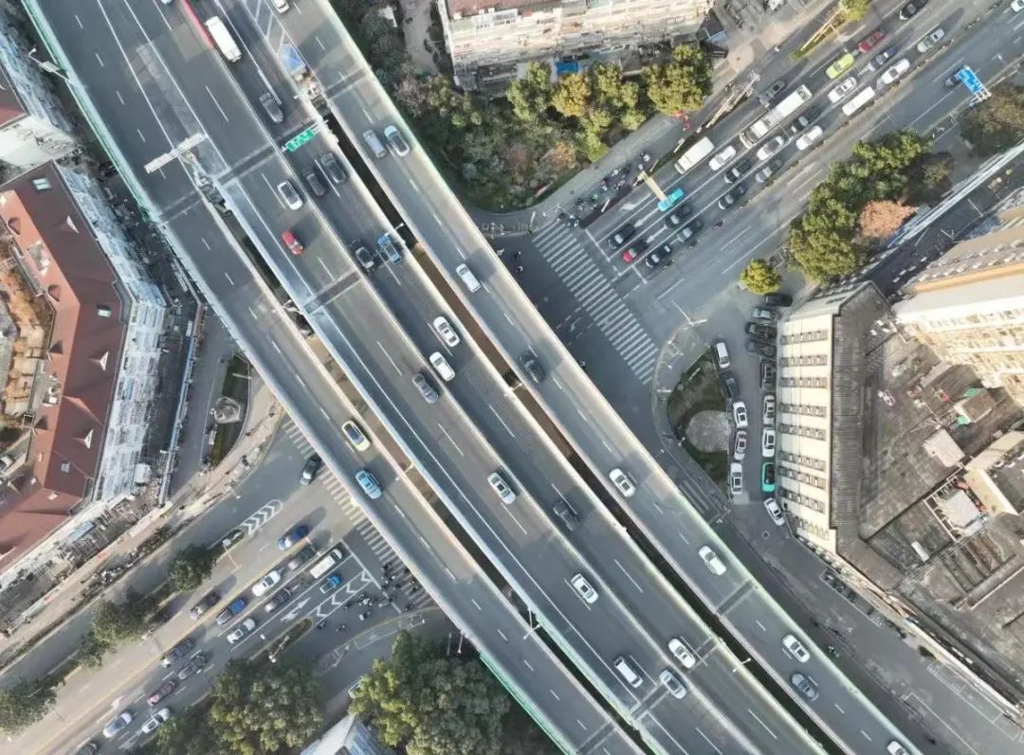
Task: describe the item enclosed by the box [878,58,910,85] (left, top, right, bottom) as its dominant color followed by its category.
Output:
white car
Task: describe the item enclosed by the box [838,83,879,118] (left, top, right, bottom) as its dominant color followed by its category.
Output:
white van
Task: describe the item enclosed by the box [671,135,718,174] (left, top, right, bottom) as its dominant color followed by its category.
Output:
white vehicle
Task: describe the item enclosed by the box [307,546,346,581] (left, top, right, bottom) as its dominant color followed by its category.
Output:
white truck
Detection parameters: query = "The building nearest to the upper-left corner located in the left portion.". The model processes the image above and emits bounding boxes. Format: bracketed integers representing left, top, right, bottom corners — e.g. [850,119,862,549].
[0,2,73,169]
